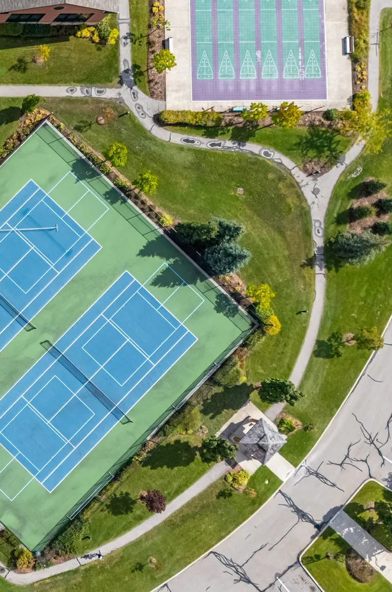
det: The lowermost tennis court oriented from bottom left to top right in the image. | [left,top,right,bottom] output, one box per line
[0,262,205,501]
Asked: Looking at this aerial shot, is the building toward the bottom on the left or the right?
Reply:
right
